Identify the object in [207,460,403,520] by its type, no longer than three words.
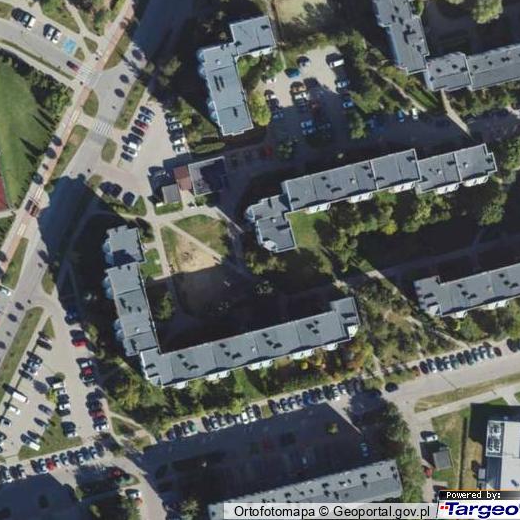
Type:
building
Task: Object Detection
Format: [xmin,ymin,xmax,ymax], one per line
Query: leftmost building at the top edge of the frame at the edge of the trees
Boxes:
[199,17,276,139]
